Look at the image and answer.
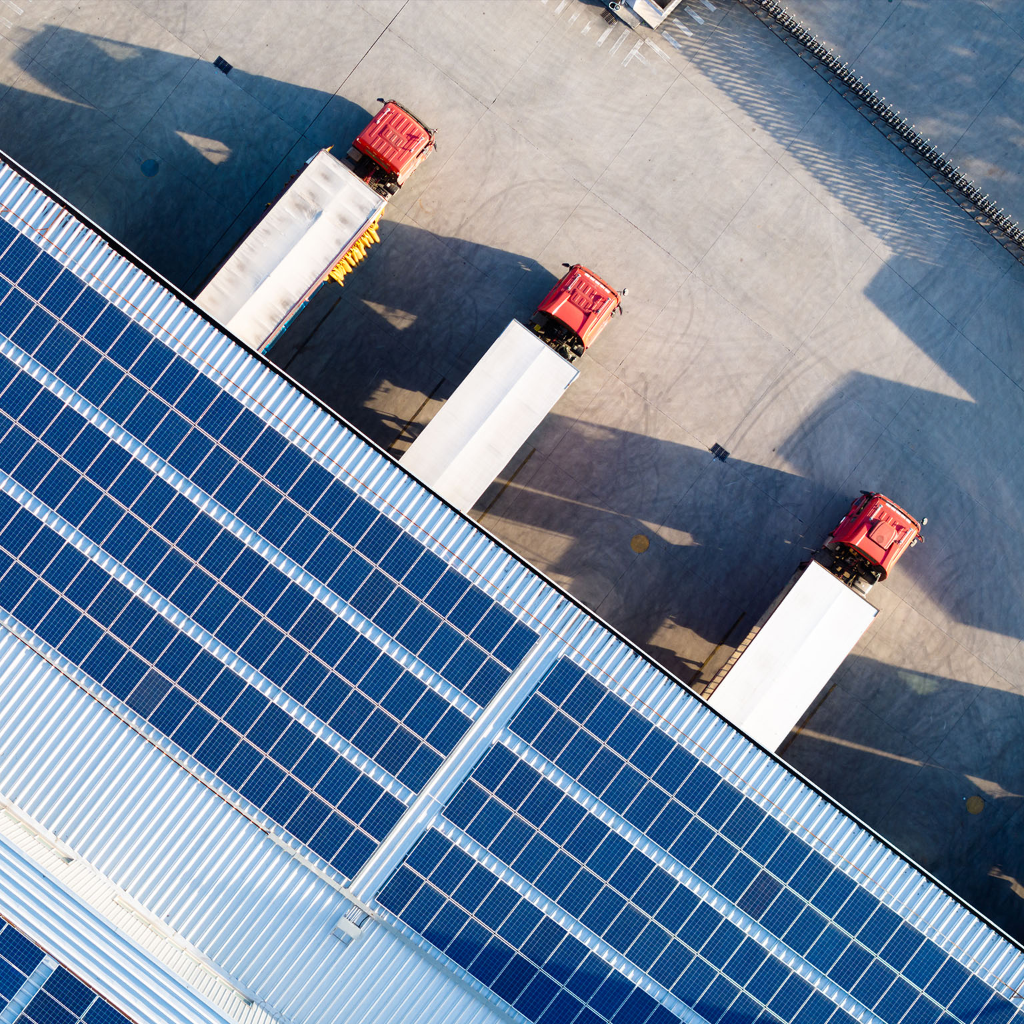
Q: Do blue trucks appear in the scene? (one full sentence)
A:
No, there is no blue truck in the image.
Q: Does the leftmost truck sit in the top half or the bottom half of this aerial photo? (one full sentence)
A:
The leftmost truck sits in the top half of the picture.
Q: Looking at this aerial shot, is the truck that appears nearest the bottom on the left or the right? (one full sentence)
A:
It is on the right.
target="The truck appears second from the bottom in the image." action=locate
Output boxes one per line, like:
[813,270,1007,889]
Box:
[403,257,634,509]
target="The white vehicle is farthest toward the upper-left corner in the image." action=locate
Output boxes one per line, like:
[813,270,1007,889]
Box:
[197,98,443,356]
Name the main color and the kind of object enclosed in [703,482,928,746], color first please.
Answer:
white truck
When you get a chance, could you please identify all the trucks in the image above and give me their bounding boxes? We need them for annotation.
[197,98,443,356]
[403,257,634,509]
[703,482,928,746]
